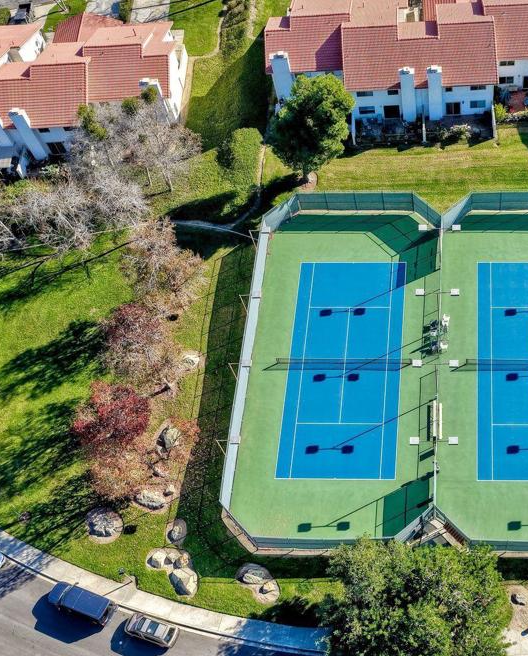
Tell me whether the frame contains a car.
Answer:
Yes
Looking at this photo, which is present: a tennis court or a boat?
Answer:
tennis court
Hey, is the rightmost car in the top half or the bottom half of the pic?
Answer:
bottom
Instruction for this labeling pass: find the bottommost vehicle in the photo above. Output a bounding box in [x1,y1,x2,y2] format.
[122,613,182,649]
